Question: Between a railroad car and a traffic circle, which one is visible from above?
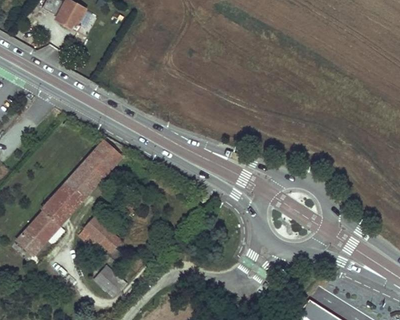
traffic circle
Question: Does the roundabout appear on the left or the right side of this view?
right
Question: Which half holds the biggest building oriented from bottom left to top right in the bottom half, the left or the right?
left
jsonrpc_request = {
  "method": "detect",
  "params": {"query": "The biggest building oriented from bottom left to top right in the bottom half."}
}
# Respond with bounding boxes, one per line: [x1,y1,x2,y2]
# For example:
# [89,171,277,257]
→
[16,140,123,256]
